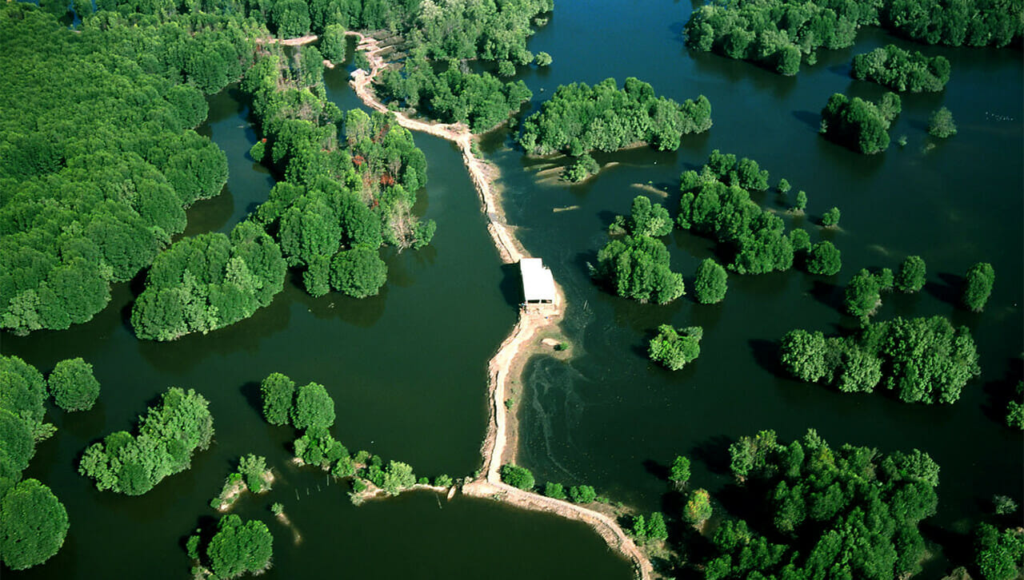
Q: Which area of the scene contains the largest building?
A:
center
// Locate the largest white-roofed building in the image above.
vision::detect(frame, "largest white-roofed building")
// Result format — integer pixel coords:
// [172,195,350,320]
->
[520,257,555,314]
